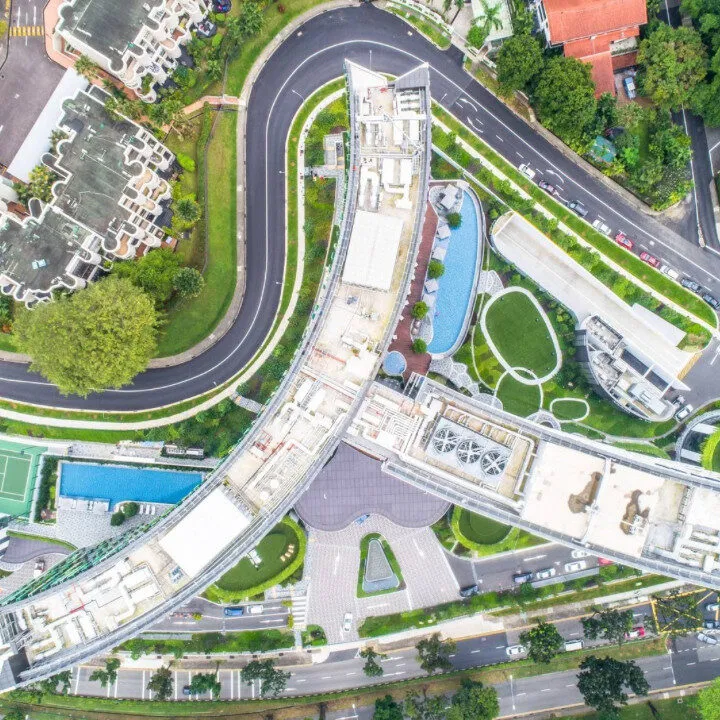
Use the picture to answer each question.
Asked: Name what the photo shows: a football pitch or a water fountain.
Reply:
water fountain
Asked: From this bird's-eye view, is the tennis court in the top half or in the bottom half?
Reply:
bottom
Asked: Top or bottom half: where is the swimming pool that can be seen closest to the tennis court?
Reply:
bottom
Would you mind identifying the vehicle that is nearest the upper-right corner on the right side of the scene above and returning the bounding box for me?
[622,77,636,98]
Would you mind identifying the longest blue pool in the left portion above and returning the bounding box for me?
[56,461,205,522]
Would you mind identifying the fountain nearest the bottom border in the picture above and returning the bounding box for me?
[363,537,399,592]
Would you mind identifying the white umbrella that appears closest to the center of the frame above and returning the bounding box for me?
[424,278,439,294]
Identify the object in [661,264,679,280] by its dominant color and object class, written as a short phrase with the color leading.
white car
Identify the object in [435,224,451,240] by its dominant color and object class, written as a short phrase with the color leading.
white umbrella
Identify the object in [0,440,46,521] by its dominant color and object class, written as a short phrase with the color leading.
green tennis court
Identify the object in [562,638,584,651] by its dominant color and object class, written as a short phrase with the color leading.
white vehicle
